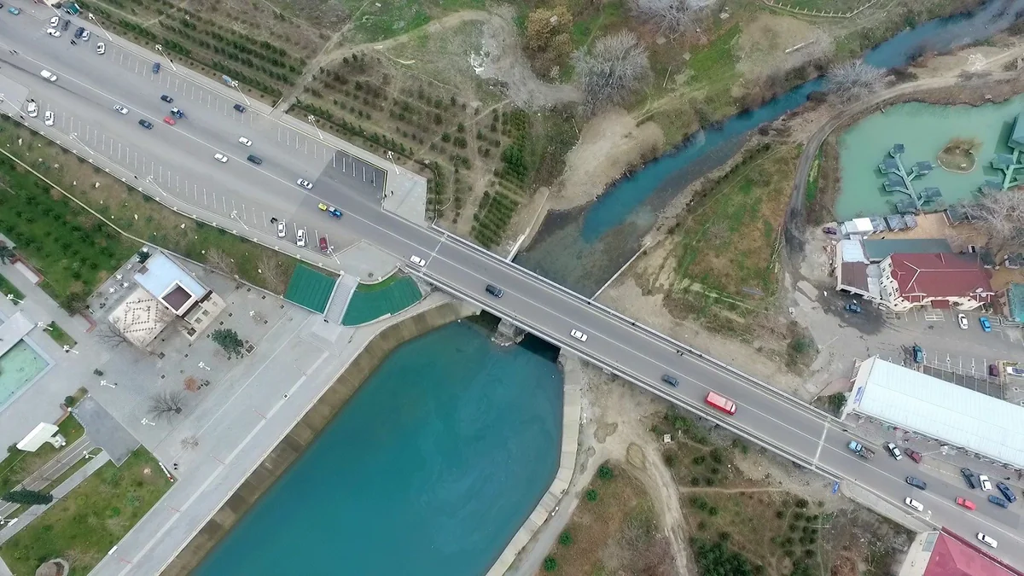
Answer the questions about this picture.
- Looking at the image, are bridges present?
Yes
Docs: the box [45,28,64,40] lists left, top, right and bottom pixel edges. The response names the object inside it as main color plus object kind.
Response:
white vehicle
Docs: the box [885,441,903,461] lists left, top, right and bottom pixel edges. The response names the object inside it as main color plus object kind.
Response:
white car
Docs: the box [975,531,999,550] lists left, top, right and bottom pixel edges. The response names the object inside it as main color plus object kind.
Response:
white car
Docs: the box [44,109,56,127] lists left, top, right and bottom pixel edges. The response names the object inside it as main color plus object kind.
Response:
white vehicle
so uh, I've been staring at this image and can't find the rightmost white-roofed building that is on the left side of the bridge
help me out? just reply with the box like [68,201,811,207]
[132,249,231,344]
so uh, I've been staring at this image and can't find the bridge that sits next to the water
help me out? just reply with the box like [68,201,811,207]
[403,224,854,483]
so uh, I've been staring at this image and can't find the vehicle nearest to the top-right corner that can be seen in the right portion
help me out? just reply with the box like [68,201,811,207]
[821,225,839,237]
